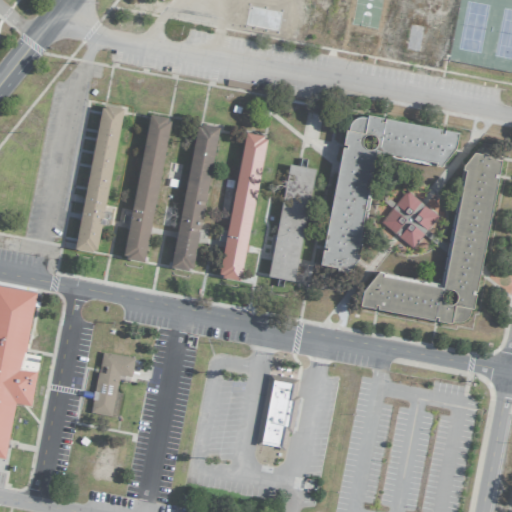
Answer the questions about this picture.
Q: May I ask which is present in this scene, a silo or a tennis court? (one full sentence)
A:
Of the two, only a tennis court appears.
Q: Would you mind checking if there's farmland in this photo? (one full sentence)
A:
No, no farmland is visible.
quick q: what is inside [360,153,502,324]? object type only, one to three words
building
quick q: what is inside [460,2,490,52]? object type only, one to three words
tennis court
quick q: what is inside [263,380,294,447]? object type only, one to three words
building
